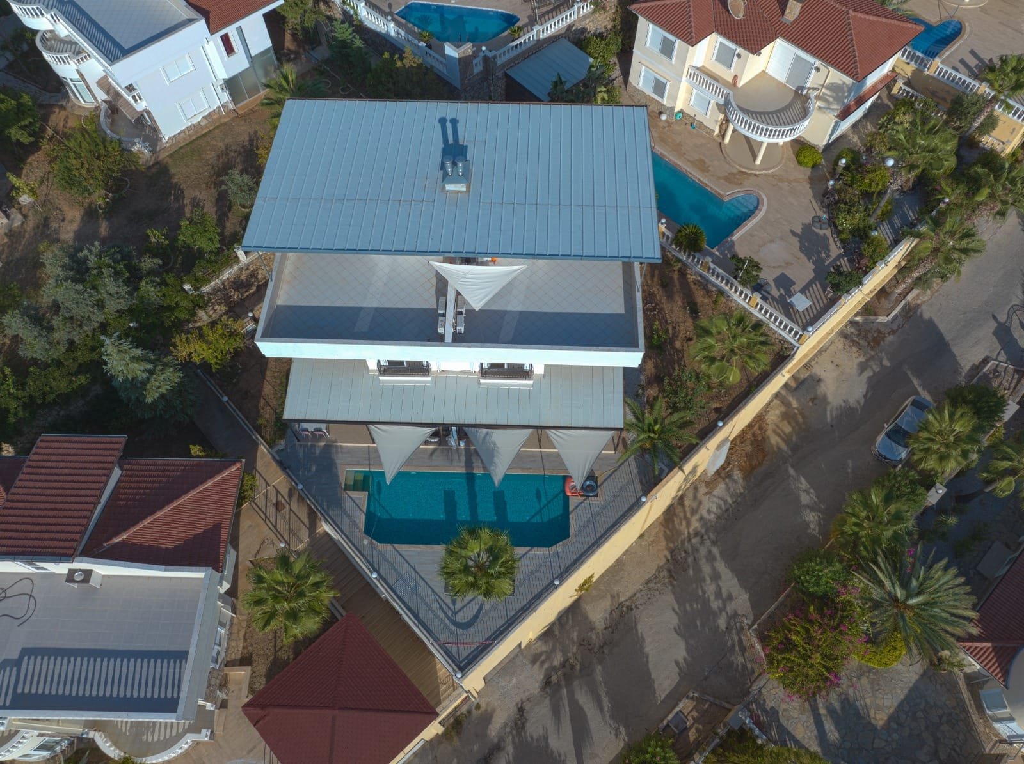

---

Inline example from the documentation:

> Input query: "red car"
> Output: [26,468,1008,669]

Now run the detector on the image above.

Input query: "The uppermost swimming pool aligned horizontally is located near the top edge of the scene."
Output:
[393,1,521,44]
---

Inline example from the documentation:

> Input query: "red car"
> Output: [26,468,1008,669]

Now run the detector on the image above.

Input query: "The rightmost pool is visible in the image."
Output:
[911,14,970,61]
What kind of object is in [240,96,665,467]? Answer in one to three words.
house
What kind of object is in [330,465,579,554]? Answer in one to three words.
swimming pool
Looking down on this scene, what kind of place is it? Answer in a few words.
residential area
